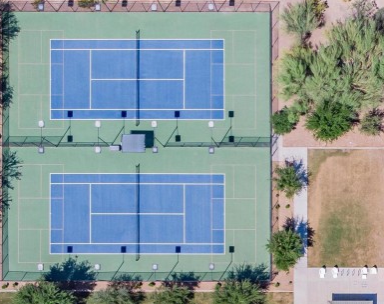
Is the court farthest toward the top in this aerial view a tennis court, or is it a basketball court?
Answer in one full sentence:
The court farthest toward the top in the image is a tennis court.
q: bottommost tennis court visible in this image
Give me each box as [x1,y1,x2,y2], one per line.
[1,147,271,279]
